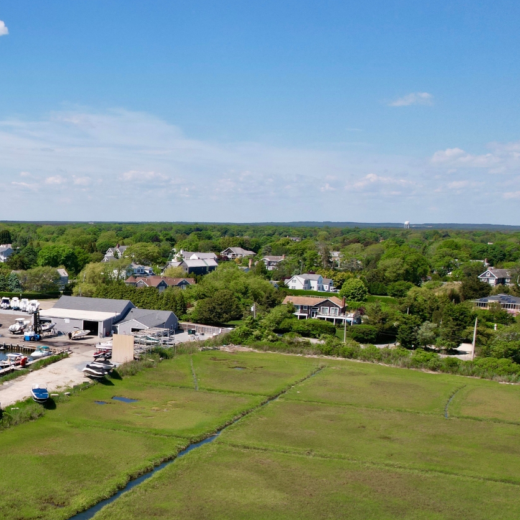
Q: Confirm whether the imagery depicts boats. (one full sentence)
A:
Yes, I can see a boat in this picture.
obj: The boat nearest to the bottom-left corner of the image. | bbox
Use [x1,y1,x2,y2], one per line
[28,378,49,396]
